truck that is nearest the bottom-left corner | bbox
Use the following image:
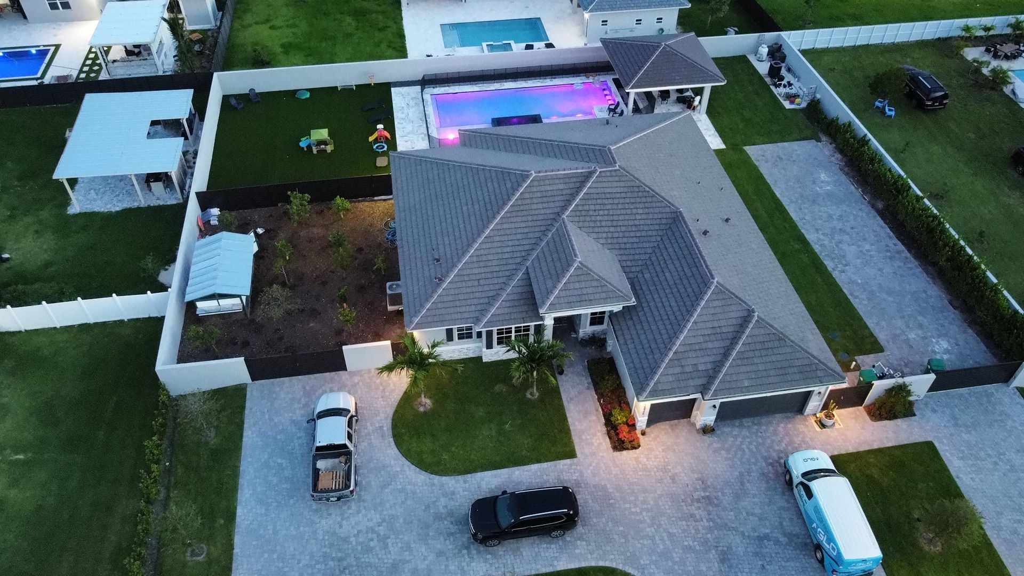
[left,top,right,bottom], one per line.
[306,393,360,511]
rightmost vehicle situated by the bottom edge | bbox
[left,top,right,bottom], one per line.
[786,451,880,576]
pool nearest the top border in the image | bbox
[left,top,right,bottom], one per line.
[440,18,548,53]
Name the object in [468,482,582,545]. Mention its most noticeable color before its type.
black car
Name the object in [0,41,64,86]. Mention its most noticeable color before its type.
blue swimming pool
